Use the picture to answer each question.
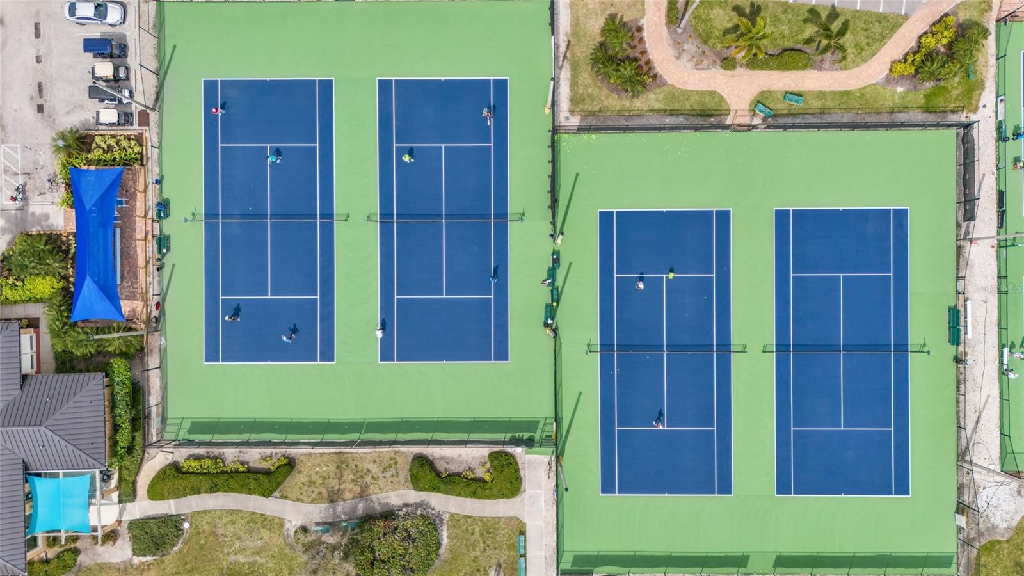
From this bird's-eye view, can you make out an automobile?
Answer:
Yes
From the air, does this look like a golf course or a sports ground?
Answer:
sports ground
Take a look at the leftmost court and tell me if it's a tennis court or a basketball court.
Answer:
tennis court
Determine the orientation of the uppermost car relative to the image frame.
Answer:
horizontally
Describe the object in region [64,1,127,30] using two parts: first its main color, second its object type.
white car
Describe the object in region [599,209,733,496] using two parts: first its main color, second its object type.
blue tennis court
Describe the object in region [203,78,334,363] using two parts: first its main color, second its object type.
blue tennis court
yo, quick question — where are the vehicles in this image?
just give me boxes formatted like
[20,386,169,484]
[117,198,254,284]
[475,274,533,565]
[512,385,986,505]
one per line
[84,38,129,60]
[96,109,134,129]
[64,1,127,30]
[89,85,134,105]
[91,62,130,83]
